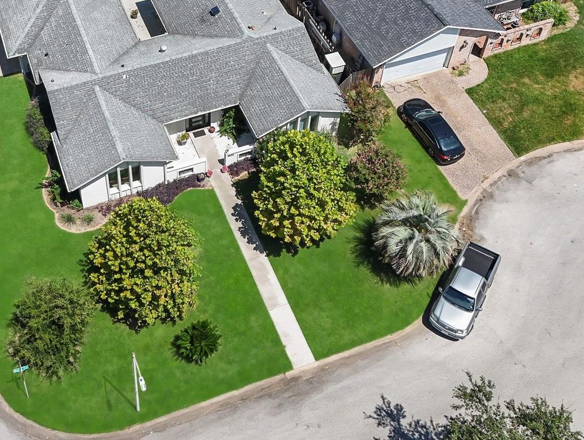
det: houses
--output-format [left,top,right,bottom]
[308,0,551,86]
[0,0,351,204]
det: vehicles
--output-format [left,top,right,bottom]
[430,243,498,343]
[400,100,465,165]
